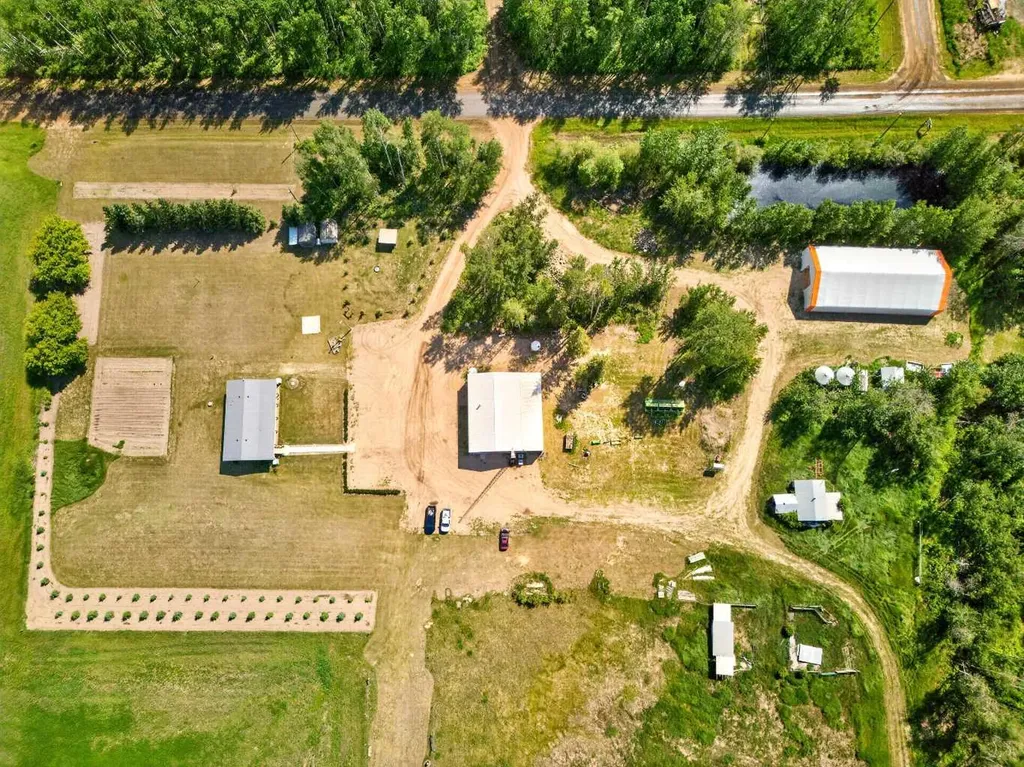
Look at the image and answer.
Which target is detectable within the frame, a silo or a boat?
silo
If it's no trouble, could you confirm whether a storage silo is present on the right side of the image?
Yes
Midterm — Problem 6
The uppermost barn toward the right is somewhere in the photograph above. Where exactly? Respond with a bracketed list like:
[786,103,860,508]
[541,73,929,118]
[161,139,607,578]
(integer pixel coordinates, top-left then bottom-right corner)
[800,245,951,316]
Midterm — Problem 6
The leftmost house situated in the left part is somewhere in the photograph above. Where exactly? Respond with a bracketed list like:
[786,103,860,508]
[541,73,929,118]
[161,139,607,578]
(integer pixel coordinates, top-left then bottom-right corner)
[223,380,280,463]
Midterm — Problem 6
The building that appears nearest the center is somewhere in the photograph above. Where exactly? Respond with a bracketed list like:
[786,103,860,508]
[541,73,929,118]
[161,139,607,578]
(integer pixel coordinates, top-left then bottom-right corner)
[468,374,543,452]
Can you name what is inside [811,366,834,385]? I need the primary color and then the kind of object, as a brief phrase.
white silo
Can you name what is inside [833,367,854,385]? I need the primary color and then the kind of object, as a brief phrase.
white silo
